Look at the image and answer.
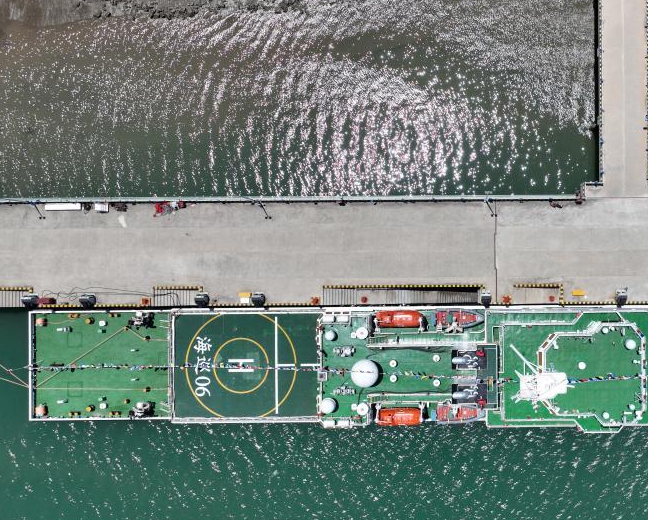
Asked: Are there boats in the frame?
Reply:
Yes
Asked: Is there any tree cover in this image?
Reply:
No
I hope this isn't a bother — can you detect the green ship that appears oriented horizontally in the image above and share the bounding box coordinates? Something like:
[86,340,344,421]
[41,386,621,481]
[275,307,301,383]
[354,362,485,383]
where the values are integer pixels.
[9,304,648,433]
